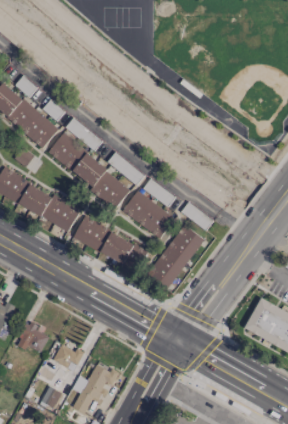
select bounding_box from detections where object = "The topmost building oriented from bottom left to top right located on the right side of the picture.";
[150,226,205,287]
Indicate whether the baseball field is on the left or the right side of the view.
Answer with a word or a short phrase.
right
